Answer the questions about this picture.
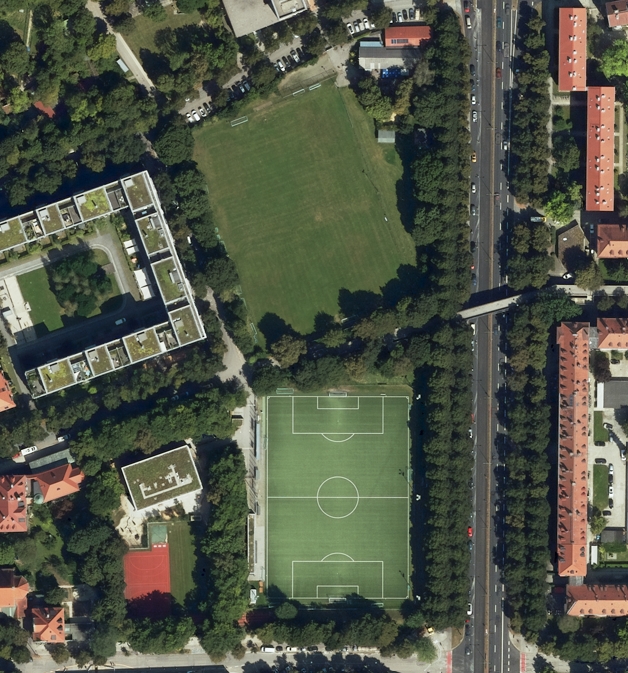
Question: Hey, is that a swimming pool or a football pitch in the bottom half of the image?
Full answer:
The one visible in the bottom half of the image is a football pitch.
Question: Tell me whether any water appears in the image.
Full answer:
No, the picture contains no water.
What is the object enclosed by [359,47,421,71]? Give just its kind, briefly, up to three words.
shed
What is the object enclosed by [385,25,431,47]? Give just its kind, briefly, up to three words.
building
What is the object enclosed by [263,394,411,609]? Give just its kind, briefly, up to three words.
soccer field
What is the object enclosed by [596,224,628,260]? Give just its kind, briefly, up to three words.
house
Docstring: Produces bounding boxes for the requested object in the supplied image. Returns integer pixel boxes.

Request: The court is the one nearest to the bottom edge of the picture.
[124,544,170,625]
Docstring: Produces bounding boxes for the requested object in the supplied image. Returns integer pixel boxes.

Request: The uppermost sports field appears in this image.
[186,79,420,350]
